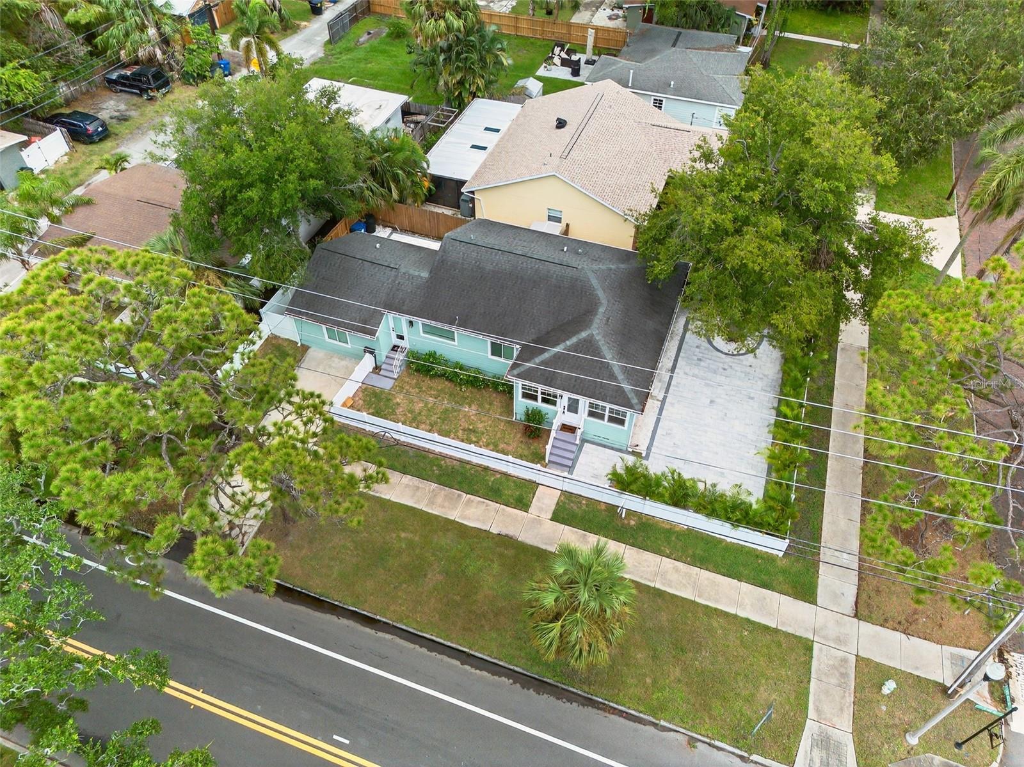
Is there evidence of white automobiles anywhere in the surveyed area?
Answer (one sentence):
No, there appears to be no white automobile in this shot.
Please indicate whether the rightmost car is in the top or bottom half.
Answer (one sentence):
Seen from above, the rightmost car lies in the top half of the view.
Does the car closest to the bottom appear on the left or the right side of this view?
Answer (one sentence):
The car closest to the bottom sits on the left side.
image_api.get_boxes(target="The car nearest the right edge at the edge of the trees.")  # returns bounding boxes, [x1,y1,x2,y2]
[103,64,171,100]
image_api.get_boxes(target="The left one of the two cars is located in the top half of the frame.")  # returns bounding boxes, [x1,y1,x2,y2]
[37,105,104,142]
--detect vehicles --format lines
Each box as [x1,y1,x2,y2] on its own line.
[37,105,104,142]
[103,64,171,100]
